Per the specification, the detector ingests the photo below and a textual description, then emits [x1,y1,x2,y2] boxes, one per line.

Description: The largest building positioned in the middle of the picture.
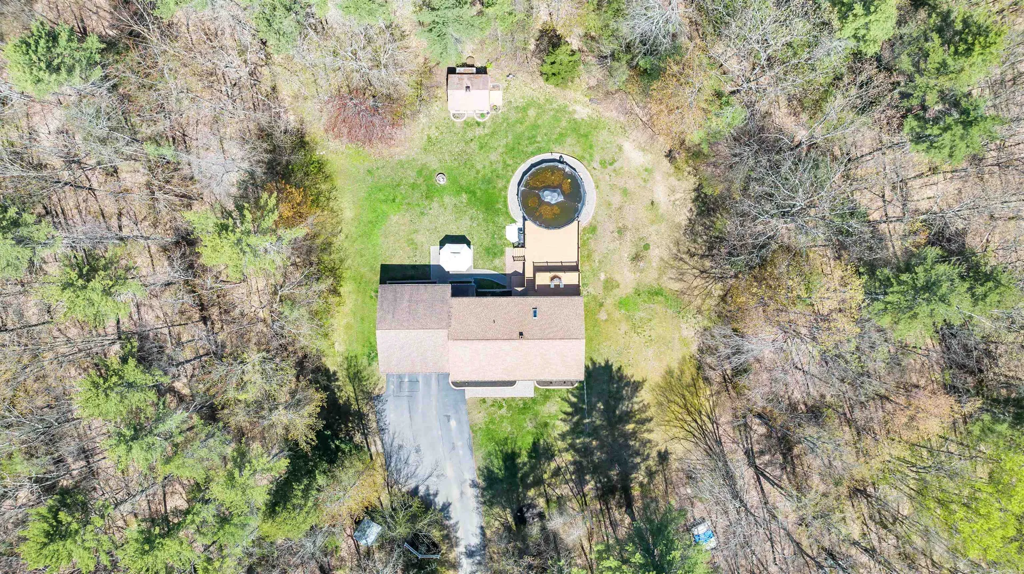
[376,283,585,382]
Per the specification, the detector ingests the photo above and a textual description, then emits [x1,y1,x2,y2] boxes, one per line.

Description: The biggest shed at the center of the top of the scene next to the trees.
[447,68,489,115]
